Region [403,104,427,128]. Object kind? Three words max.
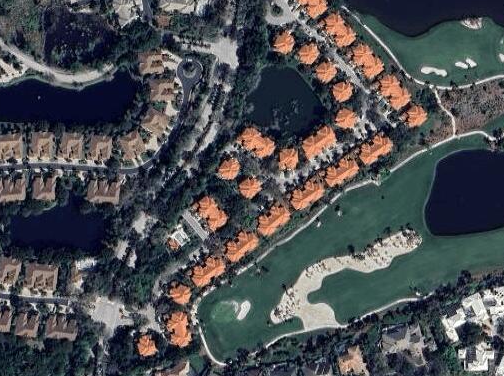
building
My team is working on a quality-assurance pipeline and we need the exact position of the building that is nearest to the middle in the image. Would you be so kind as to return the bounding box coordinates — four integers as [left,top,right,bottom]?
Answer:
[236,176,263,200]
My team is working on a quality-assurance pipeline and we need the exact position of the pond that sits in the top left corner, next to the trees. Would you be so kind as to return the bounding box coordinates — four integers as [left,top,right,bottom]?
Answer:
[44,4,118,65]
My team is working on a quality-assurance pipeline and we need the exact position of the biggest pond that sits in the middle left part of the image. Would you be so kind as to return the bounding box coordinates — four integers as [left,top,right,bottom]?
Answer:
[9,191,121,253]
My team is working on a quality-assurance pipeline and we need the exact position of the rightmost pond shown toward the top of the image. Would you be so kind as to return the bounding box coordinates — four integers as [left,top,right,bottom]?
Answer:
[245,65,327,141]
